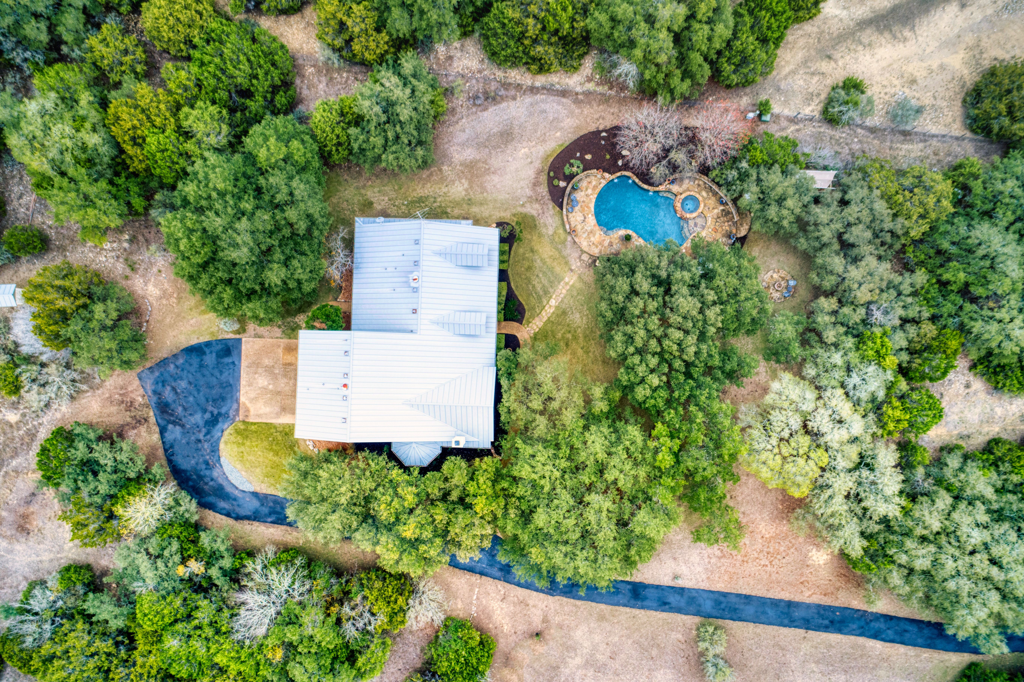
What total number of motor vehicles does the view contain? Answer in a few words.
0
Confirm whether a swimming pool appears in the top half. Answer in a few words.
Yes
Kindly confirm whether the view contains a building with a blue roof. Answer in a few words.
No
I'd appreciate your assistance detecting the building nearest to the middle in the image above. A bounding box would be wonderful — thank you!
[294,208,502,467]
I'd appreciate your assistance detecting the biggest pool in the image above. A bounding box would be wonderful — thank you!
[591,170,709,256]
